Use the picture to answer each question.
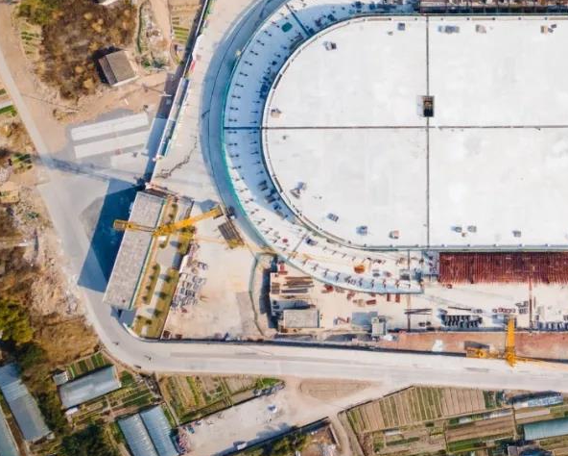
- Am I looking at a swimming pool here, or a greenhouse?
greenhouse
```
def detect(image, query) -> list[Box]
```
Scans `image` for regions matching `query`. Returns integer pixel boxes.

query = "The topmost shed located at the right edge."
[514,389,563,408]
